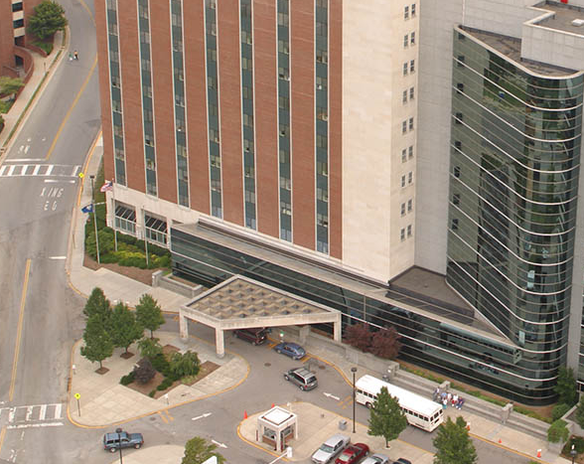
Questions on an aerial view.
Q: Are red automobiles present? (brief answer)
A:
Yes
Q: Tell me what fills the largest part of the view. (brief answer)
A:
buildings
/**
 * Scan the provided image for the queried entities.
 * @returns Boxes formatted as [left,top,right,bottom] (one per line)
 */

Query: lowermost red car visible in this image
[338,440,368,464]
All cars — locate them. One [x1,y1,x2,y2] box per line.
[104,426,142,446]
[231,326,264,343]
[284,365,316,385]
[338,440,368,464]
[390,456,410,464]
[315,432,347,457]
[274,341,306,357]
